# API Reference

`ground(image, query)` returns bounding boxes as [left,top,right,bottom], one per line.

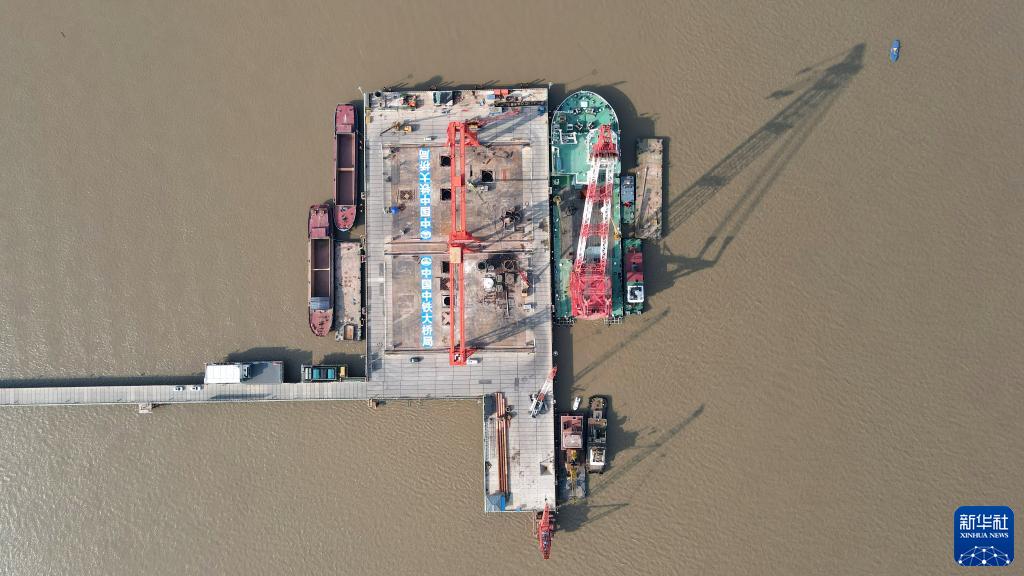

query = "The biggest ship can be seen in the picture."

[549,90,622,328]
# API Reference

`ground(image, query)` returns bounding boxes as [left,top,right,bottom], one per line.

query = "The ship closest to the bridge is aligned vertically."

[307,204,335,337]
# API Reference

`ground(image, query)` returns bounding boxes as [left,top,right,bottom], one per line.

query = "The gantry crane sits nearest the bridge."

[443,244,482,365]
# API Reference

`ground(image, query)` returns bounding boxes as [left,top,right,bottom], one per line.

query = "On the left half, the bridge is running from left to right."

[0,382,368,407]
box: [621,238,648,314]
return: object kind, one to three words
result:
boat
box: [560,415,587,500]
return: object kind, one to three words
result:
ship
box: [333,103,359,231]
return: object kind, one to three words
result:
ship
